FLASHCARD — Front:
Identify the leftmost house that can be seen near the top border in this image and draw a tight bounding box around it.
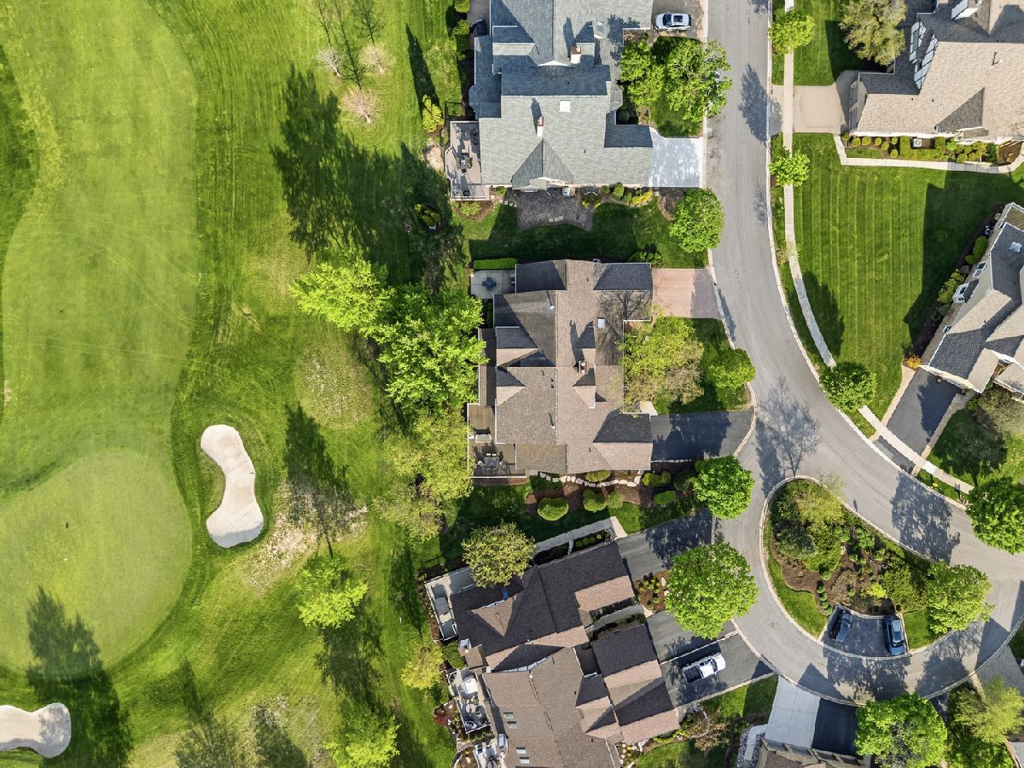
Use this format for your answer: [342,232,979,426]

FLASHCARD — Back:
[468,0,653,193]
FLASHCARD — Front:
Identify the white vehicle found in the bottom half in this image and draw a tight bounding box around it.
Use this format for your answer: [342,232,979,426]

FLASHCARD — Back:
[681,654,728,683]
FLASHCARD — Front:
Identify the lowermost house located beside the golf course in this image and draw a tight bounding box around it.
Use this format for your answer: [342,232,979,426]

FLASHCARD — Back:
[480,622,679,768]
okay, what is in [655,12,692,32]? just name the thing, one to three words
car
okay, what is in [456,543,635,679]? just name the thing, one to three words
house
